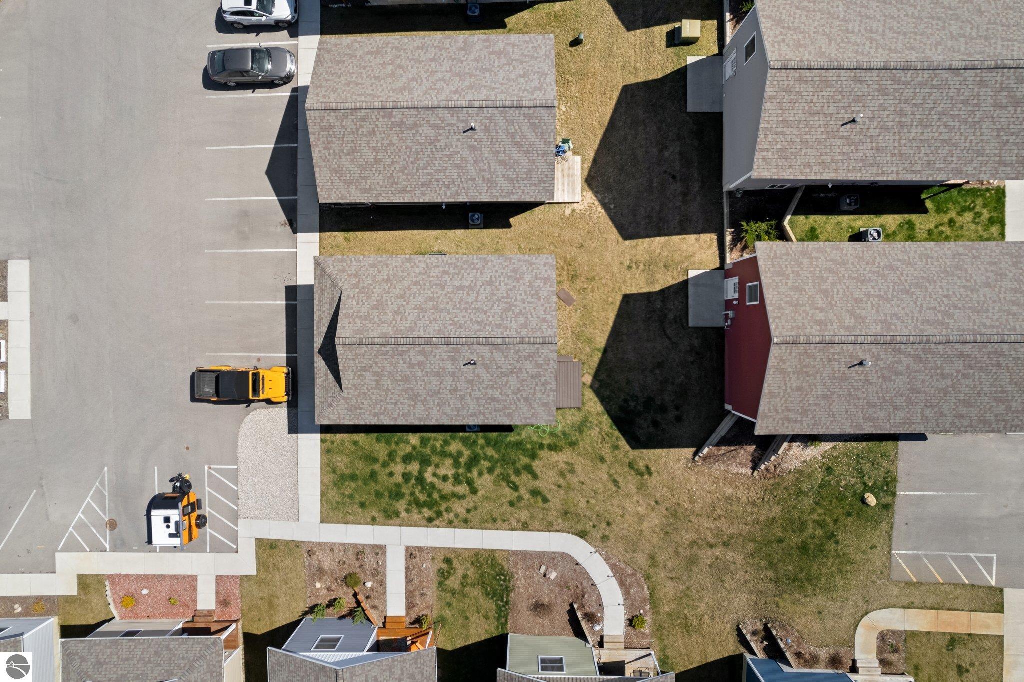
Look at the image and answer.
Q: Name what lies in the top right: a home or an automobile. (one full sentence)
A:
There is a home in the top right.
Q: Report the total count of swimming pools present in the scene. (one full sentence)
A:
Not a single swimming pool can be seen.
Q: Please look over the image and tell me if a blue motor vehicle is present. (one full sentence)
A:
No, this view has no blue motor vehicle in it.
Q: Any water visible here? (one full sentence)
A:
No, there is no water in the image.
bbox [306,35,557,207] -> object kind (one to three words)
house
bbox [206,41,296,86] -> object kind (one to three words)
car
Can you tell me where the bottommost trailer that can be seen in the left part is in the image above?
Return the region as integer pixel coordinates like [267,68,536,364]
[149,472,205,548]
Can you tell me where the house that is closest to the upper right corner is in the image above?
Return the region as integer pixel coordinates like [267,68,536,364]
[721,0,1024,196]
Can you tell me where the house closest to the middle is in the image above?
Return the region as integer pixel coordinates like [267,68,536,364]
[314,255,559,424]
